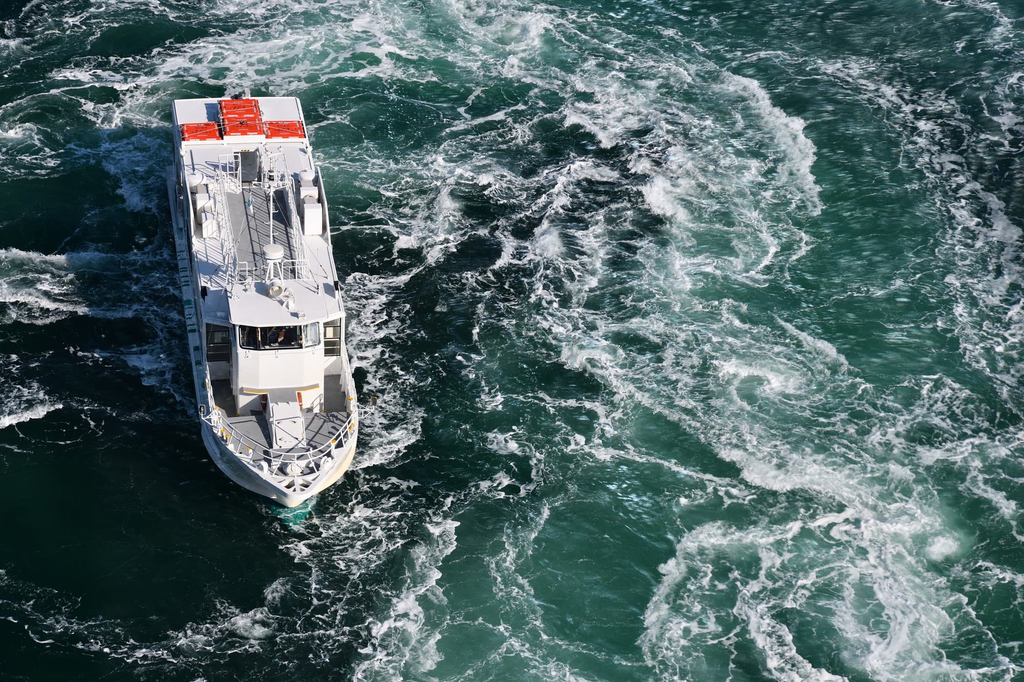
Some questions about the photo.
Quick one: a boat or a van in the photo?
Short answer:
boat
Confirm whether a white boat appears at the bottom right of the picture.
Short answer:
No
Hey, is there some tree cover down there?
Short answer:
No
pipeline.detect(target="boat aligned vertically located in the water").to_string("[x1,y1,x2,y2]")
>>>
[169,91,378,506]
